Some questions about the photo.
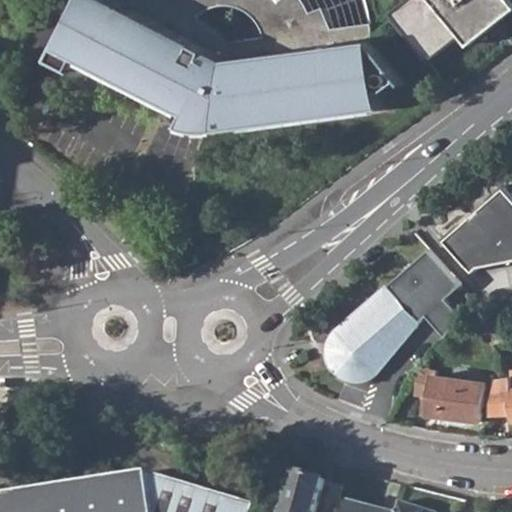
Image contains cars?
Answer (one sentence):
Yes, you can see a car in this photo.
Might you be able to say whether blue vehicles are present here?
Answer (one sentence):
No, no blue vehicle is visible in the view.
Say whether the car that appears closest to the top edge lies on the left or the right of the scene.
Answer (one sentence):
The car that appears closest to the top edge appears in the right half of the scene.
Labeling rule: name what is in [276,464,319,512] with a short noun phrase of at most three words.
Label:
house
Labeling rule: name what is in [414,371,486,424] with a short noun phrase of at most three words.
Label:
house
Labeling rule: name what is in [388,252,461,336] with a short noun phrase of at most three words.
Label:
building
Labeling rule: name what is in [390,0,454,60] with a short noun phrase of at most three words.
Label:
building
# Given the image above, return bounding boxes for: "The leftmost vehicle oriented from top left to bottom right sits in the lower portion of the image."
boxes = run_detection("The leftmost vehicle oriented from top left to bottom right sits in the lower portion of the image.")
[255,364,274,386]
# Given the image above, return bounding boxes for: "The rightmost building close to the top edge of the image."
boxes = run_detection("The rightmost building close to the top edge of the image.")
[422,0,511,52]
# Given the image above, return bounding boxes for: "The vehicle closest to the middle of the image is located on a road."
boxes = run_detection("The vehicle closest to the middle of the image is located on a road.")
[260,314,283,331]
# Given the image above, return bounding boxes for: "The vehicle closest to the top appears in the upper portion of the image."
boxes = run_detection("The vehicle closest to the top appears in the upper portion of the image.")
[420,140,442,159]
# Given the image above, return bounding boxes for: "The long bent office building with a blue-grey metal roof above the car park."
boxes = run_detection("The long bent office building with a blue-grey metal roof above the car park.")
[37,0,371,140]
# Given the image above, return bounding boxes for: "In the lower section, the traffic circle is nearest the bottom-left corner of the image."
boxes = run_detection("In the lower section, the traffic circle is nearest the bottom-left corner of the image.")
[92,306,138,352]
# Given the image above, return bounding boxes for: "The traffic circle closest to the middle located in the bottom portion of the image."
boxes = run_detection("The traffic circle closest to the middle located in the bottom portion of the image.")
[202,309,247,354]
